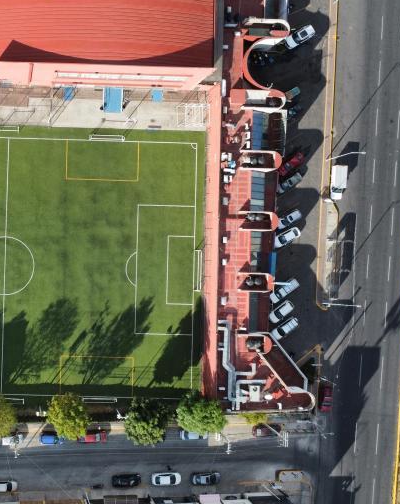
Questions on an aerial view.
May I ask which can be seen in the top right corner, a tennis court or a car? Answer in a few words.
car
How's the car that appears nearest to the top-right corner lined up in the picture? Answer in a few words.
diagonally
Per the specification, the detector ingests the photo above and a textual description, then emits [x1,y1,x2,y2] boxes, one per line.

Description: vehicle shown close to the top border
[285,22,318,49]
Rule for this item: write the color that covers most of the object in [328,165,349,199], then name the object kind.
white truck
